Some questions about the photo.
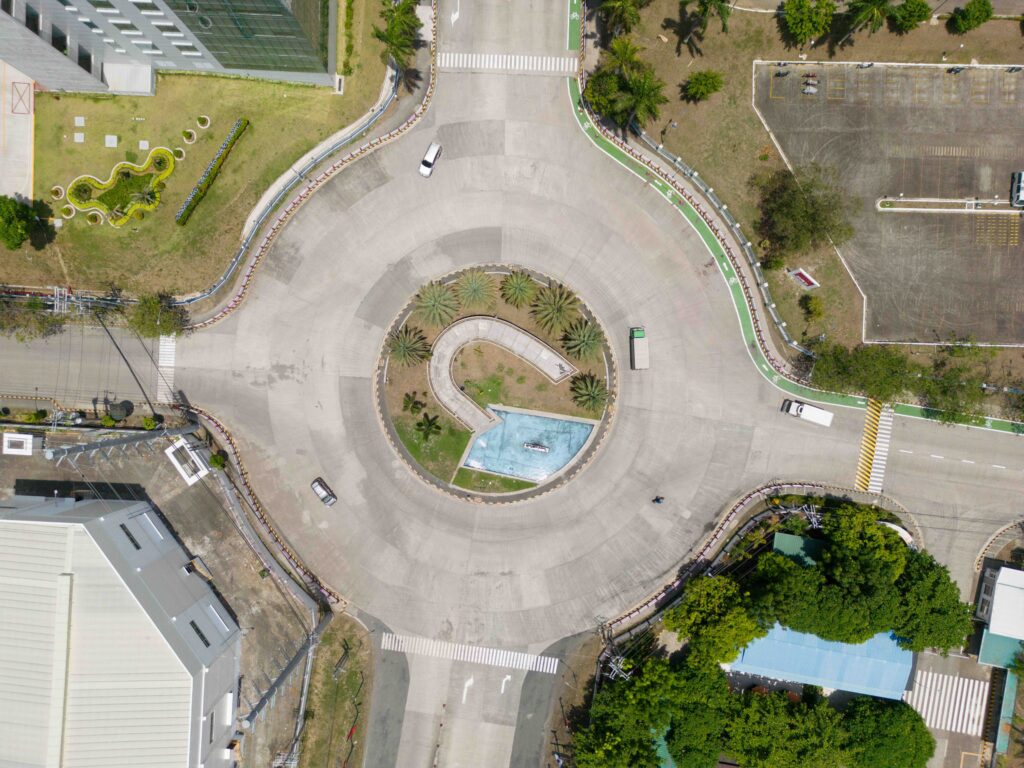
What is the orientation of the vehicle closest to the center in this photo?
up and down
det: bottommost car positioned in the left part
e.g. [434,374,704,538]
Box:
[310,475,338,507]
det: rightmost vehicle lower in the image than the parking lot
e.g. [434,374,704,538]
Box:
[779,397,836,425]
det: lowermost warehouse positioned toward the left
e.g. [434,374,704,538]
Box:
[0,499,252,768]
